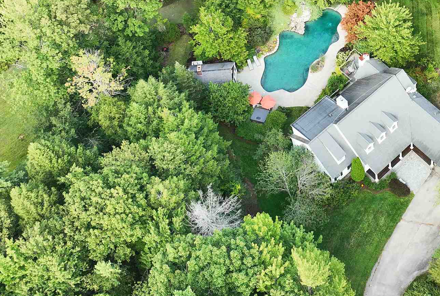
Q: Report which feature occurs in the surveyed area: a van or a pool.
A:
pool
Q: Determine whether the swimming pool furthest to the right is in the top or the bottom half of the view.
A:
top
